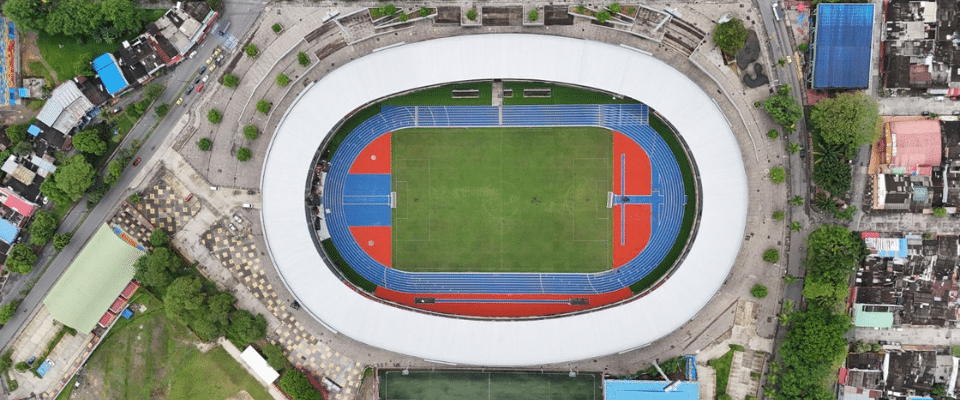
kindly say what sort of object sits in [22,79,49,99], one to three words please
building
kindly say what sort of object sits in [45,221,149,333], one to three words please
building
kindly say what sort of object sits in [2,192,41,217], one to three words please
house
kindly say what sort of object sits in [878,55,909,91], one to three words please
house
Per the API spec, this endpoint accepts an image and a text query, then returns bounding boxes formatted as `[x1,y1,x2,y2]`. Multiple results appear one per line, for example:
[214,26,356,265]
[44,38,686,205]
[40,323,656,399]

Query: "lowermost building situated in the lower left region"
[239,345,280,385]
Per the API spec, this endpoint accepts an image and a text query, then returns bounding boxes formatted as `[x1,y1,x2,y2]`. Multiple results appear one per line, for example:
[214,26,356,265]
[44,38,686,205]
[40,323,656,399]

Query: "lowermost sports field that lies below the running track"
[377,368,605,400]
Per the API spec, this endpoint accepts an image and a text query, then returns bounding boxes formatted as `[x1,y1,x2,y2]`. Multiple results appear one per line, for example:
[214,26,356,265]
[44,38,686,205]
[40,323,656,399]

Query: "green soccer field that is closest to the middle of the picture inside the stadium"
[392,128,613,271]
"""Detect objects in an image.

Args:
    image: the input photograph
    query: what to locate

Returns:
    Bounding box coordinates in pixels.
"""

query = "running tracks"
[323,104,682,317]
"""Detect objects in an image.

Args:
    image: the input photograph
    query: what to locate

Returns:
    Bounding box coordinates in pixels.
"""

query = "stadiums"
[260,34,748,367]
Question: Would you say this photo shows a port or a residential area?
residential area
